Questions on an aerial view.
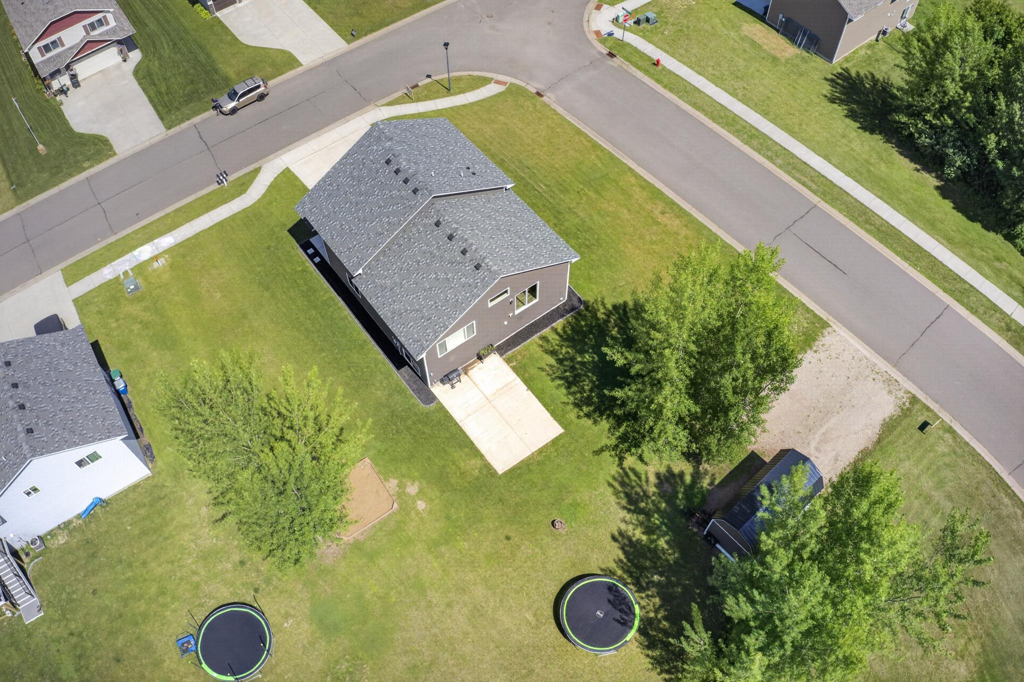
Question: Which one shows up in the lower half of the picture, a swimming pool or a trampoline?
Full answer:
There is a trampoline in the lower half of the picture.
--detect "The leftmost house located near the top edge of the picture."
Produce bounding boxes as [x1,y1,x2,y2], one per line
[0,0,138,100]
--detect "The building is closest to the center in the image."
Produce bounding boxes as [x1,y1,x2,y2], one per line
[296,120,578,389]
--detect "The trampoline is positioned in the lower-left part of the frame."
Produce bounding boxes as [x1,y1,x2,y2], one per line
[179,602,276,682]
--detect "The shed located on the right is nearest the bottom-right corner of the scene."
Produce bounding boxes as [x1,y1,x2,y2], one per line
[703,448,821,570]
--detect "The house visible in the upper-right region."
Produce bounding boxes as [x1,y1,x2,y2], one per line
[775,0,921,62]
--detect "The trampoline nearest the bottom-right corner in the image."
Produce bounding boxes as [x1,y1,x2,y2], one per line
[559,574,640,665]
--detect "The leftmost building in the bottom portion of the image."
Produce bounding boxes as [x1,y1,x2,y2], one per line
[0,325,151,539]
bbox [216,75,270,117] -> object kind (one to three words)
car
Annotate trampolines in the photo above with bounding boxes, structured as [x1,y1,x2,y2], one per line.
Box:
[559,574,640,665]
[179,602,276,682]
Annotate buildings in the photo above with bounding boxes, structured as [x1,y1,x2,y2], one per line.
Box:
[193,0,244,20]
[0,325,151,539]
[775,0,921,62]
[703,448,821,570]
[0,0,138,100]
[296,120,578,389]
